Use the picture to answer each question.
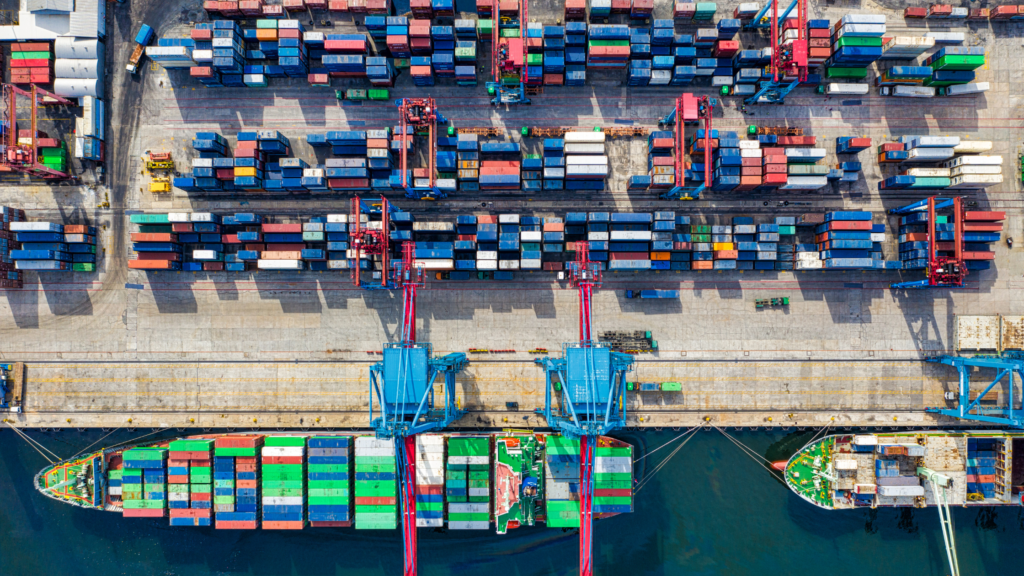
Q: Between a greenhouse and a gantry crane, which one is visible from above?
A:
gantry crane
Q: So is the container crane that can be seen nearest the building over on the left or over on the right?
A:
left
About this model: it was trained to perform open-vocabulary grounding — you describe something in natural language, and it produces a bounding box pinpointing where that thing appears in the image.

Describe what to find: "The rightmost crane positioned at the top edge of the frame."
[744,0,807,101]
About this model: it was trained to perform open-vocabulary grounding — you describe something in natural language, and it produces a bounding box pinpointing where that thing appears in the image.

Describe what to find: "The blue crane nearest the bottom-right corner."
[928,354,1024,438]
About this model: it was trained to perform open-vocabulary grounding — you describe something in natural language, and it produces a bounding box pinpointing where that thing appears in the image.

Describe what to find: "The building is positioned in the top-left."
[0,0,107,102]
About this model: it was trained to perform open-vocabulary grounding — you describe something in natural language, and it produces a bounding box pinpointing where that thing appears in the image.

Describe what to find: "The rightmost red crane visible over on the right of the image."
[887,198,964,289]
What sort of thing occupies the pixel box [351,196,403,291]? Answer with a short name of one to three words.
container crane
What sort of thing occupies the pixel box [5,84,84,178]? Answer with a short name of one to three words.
container crane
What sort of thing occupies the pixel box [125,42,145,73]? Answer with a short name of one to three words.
vehicle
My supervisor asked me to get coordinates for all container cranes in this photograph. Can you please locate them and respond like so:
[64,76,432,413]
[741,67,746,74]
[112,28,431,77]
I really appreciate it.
[887,198,964,289]
[488,0,530,102]
[365,243,470,576]
[744,0,807,101]
[398,99,447,200]
[534,243,632,576]
[656,93,712,200]
[928,354,1024,438]
[5,84,84,178]
[351,196,403,291]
